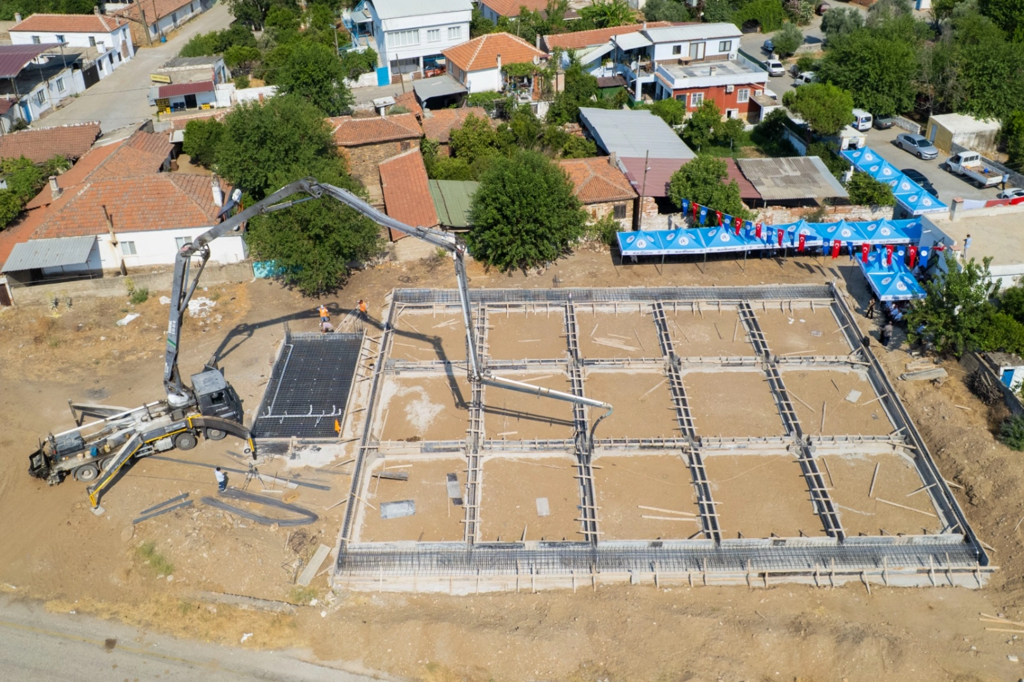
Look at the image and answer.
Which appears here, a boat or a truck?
truck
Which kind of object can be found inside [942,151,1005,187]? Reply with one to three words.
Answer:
truck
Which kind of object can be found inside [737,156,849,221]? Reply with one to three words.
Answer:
shed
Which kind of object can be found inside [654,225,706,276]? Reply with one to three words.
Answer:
tent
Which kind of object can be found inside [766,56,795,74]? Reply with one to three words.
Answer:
car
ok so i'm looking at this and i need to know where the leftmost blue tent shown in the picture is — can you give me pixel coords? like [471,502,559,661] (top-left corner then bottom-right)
[613,227,664,278]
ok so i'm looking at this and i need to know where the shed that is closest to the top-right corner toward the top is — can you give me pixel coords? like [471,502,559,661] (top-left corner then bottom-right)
[927,105,1008,154]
